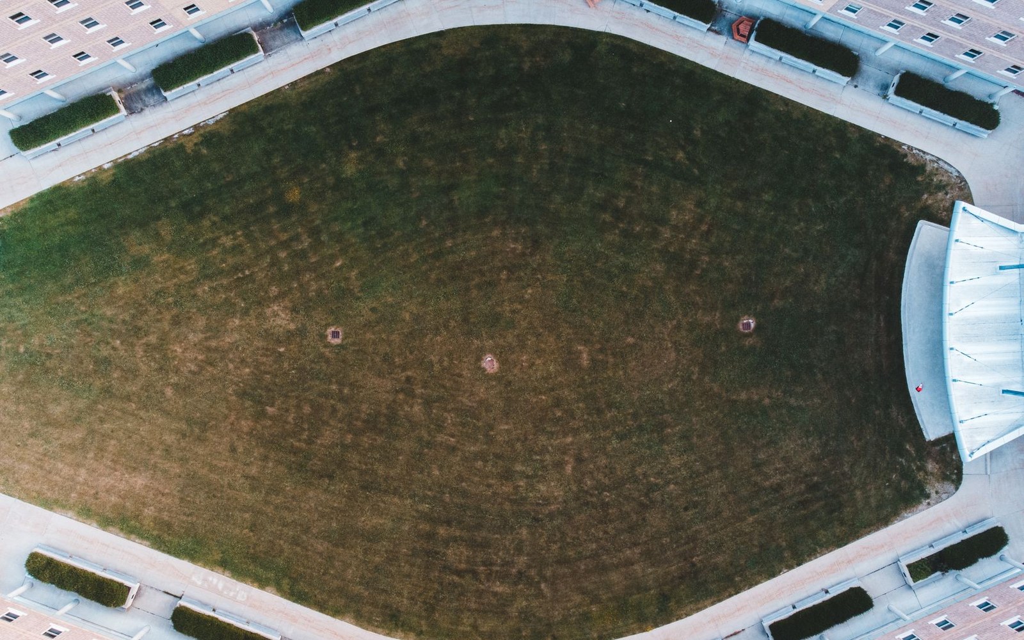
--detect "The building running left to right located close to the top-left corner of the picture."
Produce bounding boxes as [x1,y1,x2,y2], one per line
[0,0,274,121]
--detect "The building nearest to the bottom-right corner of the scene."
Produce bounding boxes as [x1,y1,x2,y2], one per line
[849,555,1024,640]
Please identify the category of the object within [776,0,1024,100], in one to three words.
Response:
building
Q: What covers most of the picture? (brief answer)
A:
grass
